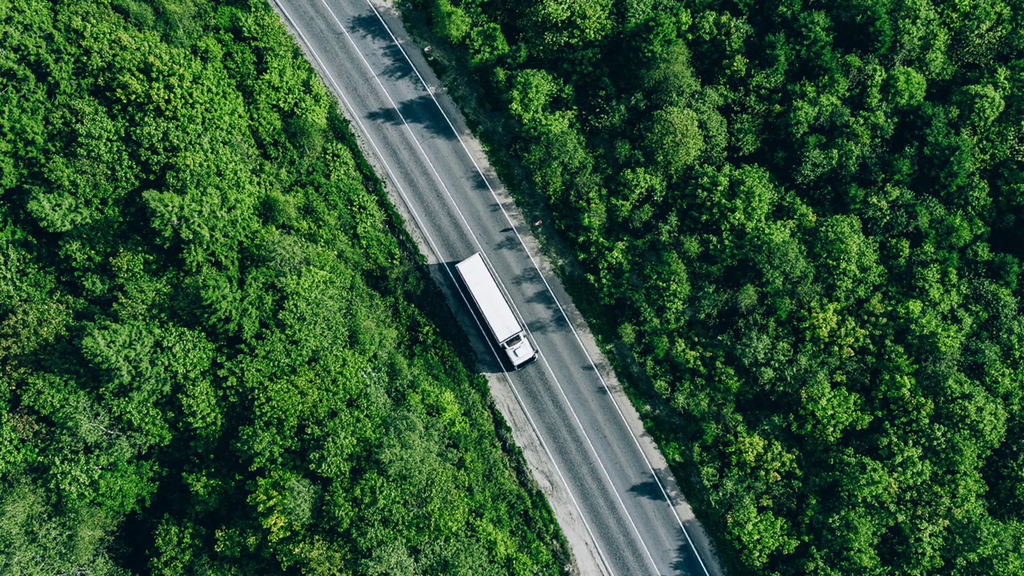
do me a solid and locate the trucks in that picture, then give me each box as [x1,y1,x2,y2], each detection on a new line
[455,252,539,369]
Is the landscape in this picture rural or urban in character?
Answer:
rural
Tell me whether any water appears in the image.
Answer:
No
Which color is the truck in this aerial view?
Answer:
white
